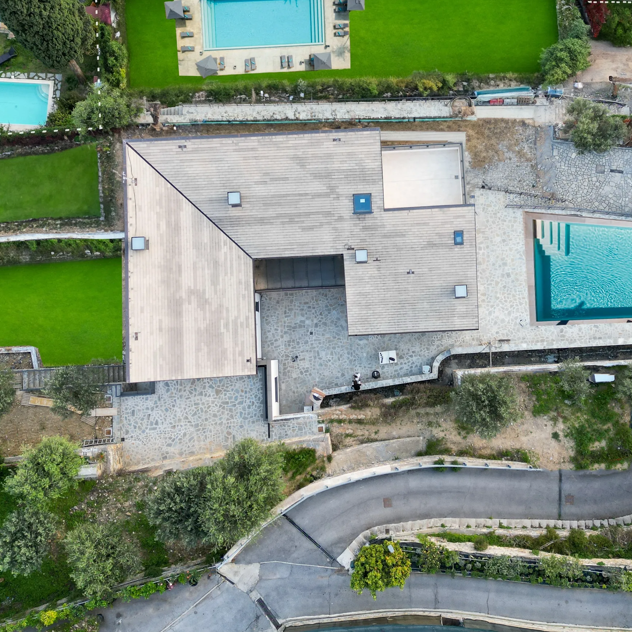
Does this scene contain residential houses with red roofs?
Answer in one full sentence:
No, no residential house with a red roof is visible in the scene.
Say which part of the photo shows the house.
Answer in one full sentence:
You can find the house in the center area of the picture.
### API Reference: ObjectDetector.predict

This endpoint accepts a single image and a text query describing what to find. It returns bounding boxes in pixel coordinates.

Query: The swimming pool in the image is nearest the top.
[200,0,325,51]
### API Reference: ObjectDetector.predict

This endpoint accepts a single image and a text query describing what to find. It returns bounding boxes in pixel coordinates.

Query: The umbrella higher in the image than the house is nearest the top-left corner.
[165,1,186,22]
